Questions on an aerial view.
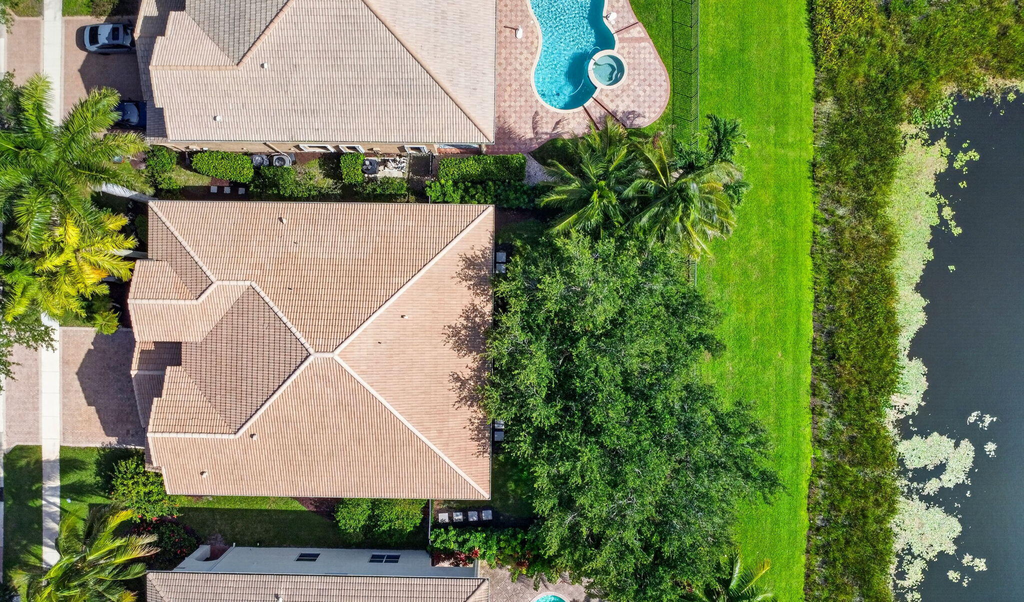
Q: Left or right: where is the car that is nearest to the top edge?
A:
left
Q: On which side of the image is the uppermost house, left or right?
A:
left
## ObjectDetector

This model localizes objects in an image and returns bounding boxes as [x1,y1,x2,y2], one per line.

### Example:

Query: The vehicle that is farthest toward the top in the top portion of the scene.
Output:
[82,21,139,60]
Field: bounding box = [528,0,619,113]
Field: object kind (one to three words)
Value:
swimming pool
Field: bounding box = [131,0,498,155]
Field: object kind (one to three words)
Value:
house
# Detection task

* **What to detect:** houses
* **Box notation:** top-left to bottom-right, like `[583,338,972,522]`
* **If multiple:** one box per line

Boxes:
[123,200,496,501]
[144,545,493,602]
[131,0,498,155]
